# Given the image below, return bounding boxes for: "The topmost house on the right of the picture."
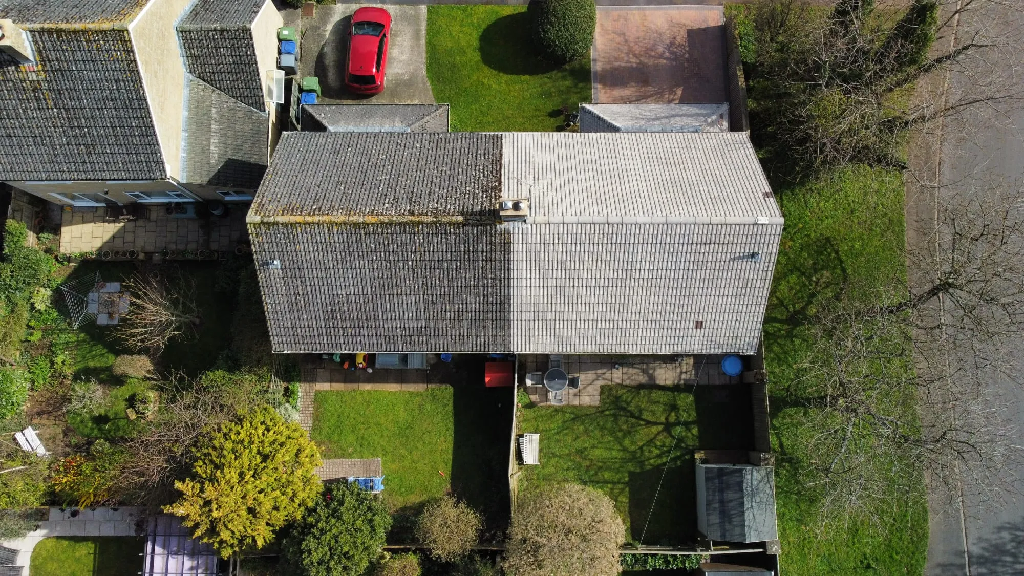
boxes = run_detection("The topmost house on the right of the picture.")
[497,100,785,357]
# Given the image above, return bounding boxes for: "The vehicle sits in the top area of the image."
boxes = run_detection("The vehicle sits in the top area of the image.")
[345,6,392,96]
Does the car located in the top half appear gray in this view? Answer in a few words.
No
